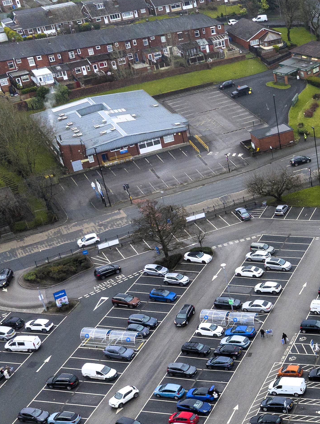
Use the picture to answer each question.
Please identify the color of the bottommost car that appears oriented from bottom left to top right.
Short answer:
white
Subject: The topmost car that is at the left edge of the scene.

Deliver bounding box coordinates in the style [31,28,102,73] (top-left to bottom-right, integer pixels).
[0,268,15,287]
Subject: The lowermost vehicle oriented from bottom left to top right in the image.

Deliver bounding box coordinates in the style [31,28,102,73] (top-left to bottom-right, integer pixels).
[107,385,140,410]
